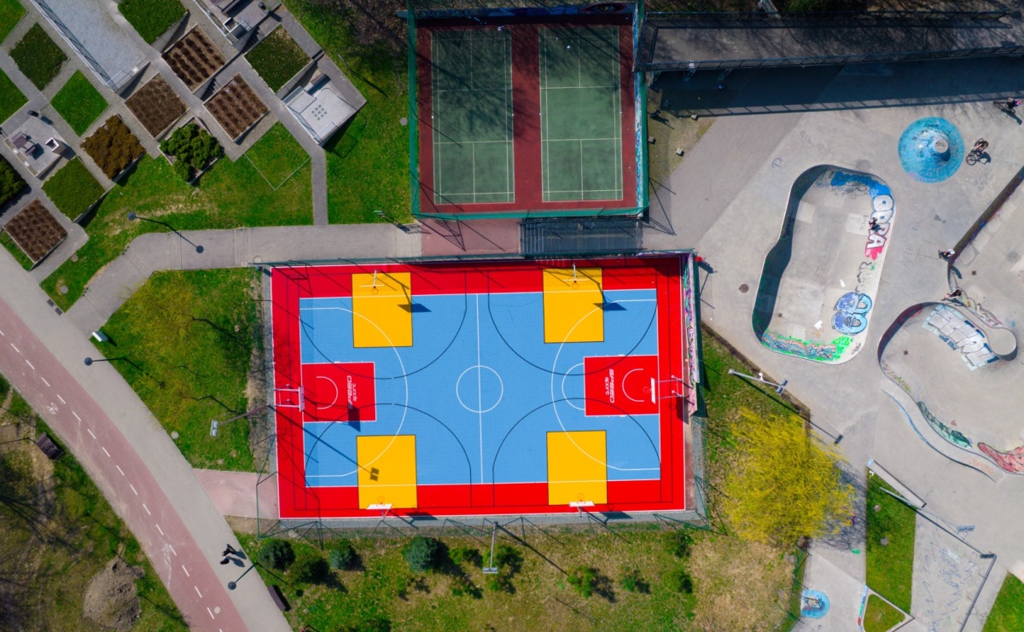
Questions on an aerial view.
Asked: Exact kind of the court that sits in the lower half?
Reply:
basketball court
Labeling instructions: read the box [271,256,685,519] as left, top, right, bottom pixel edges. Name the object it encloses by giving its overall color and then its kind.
blue basketball court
